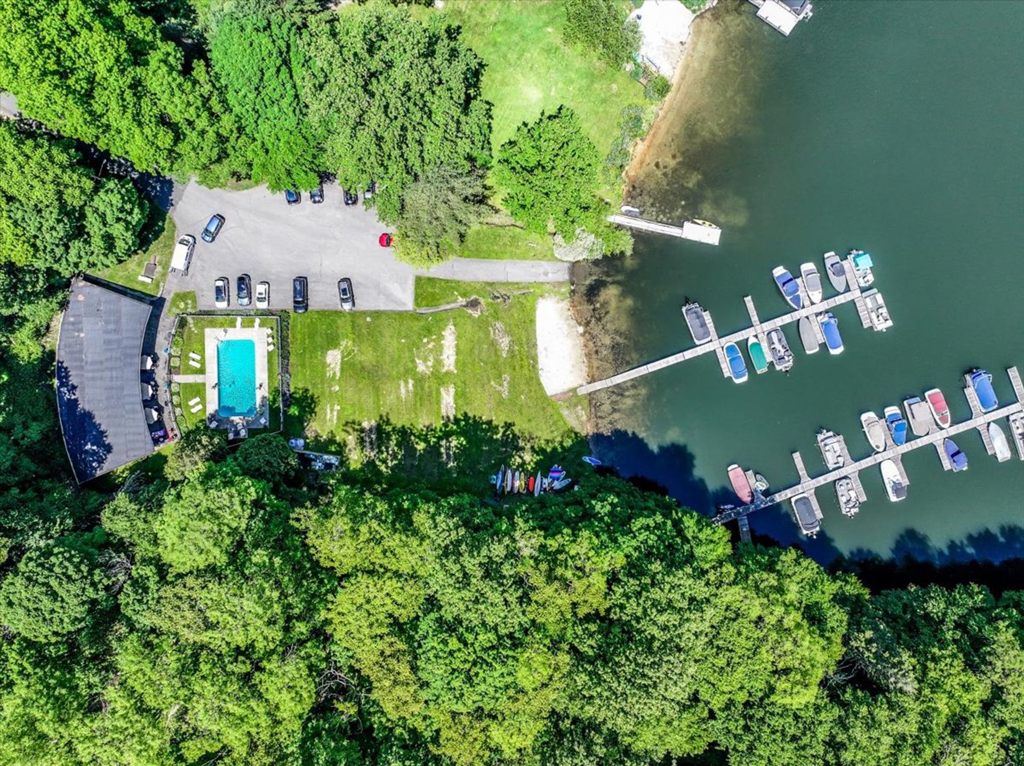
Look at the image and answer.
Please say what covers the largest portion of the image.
trees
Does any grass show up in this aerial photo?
Yes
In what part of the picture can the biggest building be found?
left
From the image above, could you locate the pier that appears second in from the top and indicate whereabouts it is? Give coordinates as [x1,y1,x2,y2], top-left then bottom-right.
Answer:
[607,211,722,245]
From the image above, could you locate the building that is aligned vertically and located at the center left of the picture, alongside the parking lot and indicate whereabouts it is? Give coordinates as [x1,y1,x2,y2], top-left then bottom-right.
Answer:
[55,278,156,485]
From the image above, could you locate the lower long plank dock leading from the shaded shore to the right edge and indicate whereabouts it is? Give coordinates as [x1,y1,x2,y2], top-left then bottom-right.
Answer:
[721,366,1024,549]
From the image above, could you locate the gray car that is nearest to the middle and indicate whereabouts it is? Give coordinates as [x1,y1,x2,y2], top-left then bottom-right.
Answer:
[337,280,354,310]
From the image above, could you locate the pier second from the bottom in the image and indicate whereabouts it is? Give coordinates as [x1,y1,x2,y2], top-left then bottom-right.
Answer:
[577,258,872,395]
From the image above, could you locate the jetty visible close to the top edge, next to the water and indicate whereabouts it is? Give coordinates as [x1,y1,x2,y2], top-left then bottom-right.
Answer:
[739,0,800,36]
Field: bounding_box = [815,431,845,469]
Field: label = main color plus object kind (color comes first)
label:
white boat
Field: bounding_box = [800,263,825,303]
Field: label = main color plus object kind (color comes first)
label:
white boat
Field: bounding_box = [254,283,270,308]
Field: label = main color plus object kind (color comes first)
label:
white car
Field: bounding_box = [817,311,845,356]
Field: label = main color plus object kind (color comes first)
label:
blue boat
